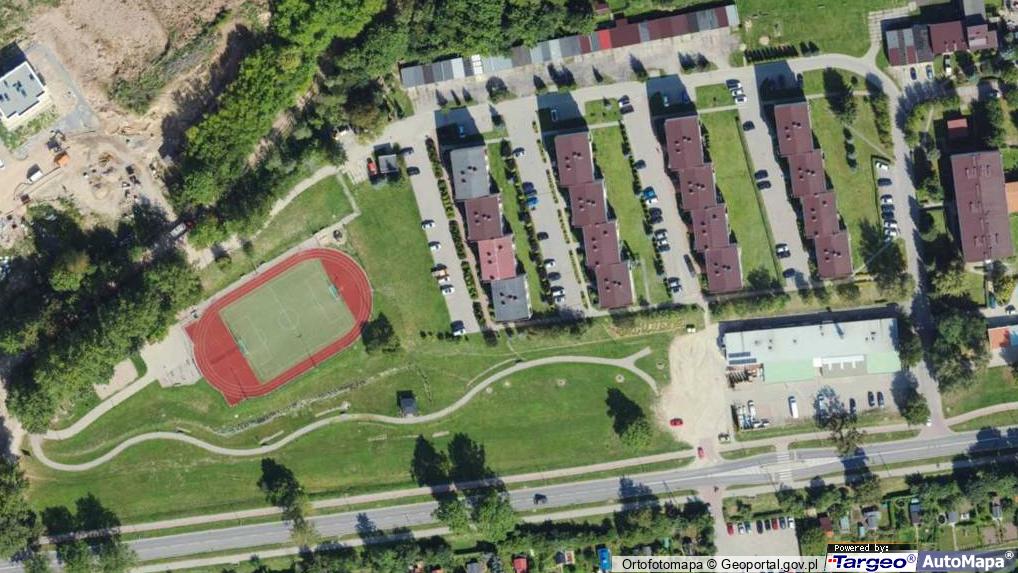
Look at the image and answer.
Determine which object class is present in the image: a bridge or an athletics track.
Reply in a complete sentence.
There is an athletics track in the scene.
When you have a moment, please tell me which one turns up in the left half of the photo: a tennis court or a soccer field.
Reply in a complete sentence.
There is a soccer field in the left half of the photo.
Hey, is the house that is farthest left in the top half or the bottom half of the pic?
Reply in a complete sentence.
Seen from above, the house that is farthest left lies in the top half of the view.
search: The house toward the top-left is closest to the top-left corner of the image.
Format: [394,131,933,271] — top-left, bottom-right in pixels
[0,60,52,124]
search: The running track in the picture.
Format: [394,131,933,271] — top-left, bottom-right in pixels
[184,247,374,408]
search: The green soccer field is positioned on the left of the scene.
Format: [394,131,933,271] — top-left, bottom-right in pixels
[220,259,356,384]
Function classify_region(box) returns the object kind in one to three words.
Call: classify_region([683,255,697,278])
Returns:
vehicle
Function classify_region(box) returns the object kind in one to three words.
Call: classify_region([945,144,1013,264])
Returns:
house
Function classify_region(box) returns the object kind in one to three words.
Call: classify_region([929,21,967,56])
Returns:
house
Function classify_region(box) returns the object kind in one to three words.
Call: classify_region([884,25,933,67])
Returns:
building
